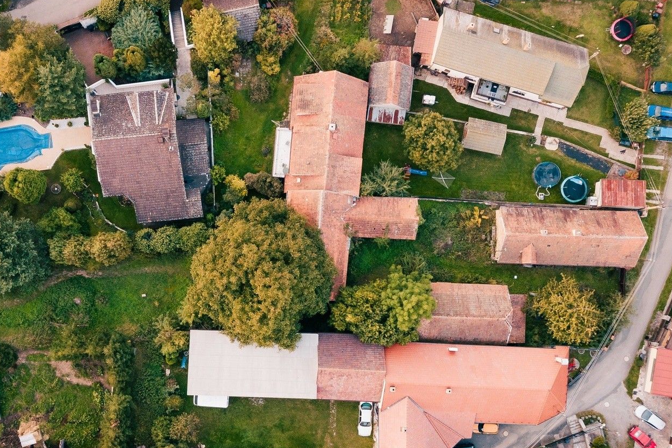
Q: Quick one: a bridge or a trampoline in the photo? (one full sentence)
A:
Of the two, only a trampoline appears.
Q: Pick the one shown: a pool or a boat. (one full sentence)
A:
The image shows a pool.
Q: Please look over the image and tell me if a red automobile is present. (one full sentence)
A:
Yes, looking at the shot, I can spot a red automobile.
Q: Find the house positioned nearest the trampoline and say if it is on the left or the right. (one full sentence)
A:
The house positioned nearest the trampoline is on the right side of the image.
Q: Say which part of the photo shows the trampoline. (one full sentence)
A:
The trampoline sits in the top right section of the image.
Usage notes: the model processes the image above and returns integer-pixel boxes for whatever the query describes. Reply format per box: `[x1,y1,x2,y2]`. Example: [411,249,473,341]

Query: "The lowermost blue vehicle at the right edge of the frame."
[645,125,672,142]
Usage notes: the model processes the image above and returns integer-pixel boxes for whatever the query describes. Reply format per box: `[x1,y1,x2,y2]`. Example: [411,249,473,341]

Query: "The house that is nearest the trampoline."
[433,6,589,108]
